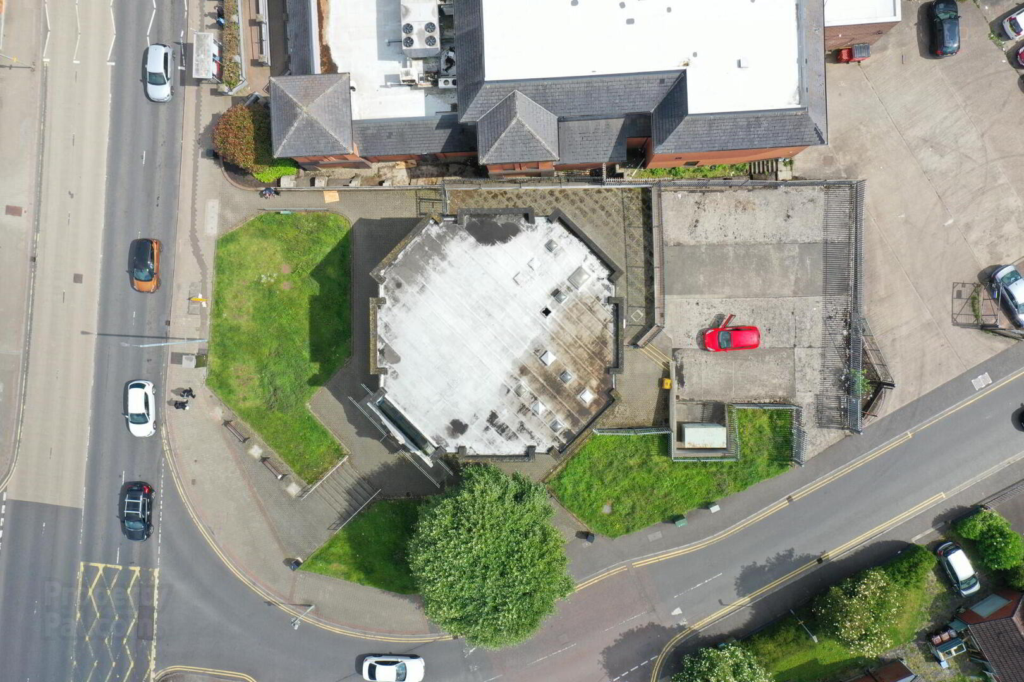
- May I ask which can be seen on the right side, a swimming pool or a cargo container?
cargo container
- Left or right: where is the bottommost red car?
right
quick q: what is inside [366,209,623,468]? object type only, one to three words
building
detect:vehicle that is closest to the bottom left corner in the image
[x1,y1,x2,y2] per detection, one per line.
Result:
[119,481,155,541]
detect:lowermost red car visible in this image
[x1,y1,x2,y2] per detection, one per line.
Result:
[702,313,759,352]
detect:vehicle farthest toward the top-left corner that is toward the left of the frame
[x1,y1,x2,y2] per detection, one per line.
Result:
[143,44,177,104]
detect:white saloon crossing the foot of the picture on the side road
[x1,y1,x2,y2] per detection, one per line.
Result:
[362,650,425,682]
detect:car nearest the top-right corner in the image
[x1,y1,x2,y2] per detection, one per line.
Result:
[995,4,1024,39]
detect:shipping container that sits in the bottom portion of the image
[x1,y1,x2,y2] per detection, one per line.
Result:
[679,423,727,448]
